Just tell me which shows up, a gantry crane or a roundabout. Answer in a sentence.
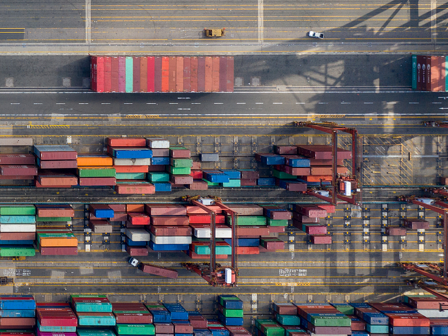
Visible in the photo is a gantry crane.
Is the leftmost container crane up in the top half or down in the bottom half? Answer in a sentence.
You can find the leftmost container crane in the bottom half.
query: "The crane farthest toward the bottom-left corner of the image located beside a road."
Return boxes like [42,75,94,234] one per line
[181,197,241,288]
